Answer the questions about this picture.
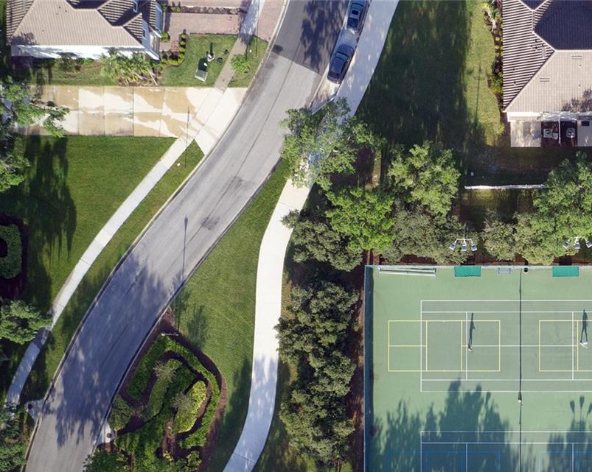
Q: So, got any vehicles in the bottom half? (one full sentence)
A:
No, there's no vehicle to be seen in the bottom half.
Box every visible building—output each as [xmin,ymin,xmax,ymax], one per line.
[12,0,168,59]
[503,0,592,122]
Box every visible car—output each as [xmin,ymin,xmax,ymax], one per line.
[346,0,371,30]
[328,44,354,85]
